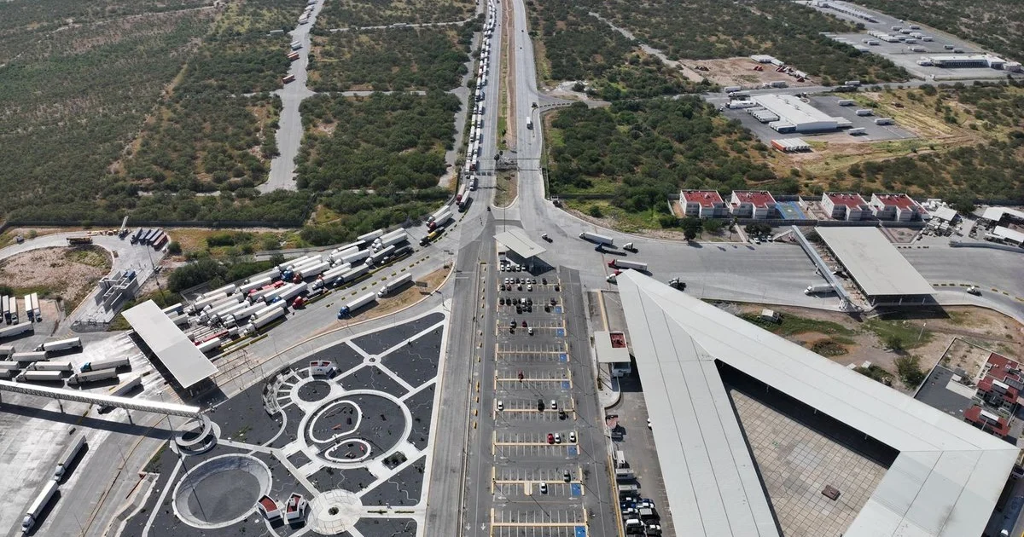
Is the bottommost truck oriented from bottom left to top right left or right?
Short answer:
left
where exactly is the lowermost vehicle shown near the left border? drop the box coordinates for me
[20,481,60,535]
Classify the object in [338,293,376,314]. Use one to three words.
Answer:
truck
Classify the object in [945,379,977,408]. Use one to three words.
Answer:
house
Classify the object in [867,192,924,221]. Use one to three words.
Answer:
building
